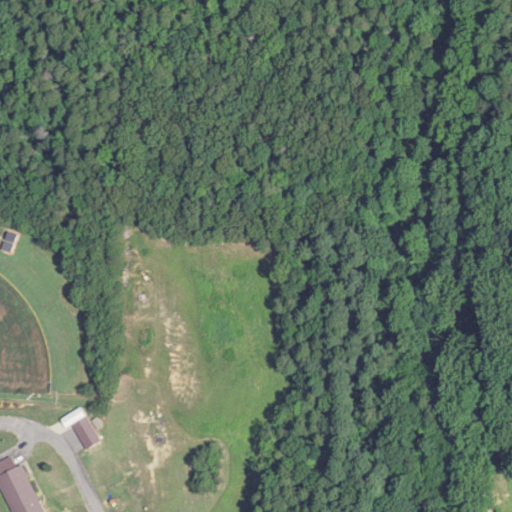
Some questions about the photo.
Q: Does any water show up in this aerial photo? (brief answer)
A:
No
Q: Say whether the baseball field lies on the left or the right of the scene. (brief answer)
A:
left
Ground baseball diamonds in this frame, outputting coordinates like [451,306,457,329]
[0,276,50,392]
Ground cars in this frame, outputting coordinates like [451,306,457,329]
[18,440,27,448]
[14,456,24,463]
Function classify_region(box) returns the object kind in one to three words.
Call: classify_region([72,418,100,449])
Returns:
house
